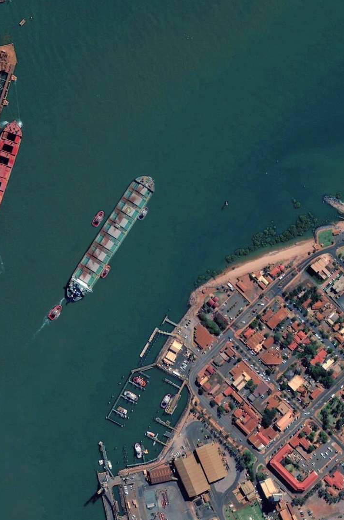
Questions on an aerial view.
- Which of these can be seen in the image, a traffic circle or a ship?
ship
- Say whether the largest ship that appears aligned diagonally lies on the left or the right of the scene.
left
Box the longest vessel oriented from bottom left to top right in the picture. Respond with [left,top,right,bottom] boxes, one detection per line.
[61,173,150,305]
